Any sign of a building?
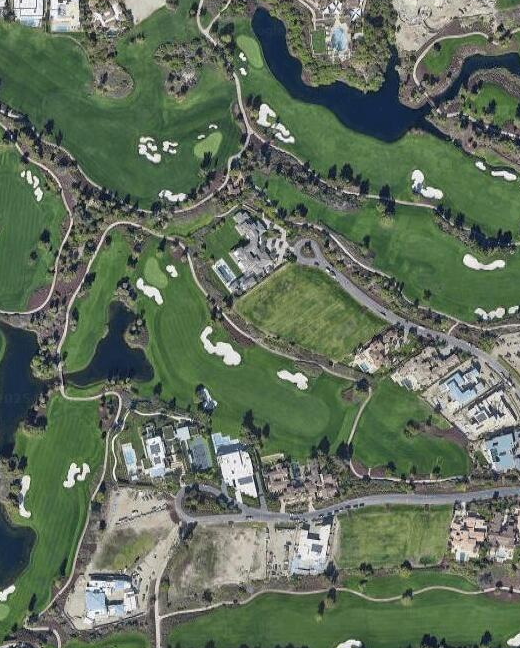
Yes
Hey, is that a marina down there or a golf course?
golf course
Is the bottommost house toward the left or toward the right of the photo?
left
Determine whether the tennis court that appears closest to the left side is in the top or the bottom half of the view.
bottom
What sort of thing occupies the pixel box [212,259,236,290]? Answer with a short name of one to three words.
swimming pool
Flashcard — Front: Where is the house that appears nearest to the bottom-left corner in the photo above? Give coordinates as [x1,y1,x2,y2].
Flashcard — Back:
[82,580,136,626]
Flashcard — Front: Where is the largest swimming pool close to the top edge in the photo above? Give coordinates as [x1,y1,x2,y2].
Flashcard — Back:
[330,27,346,52]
